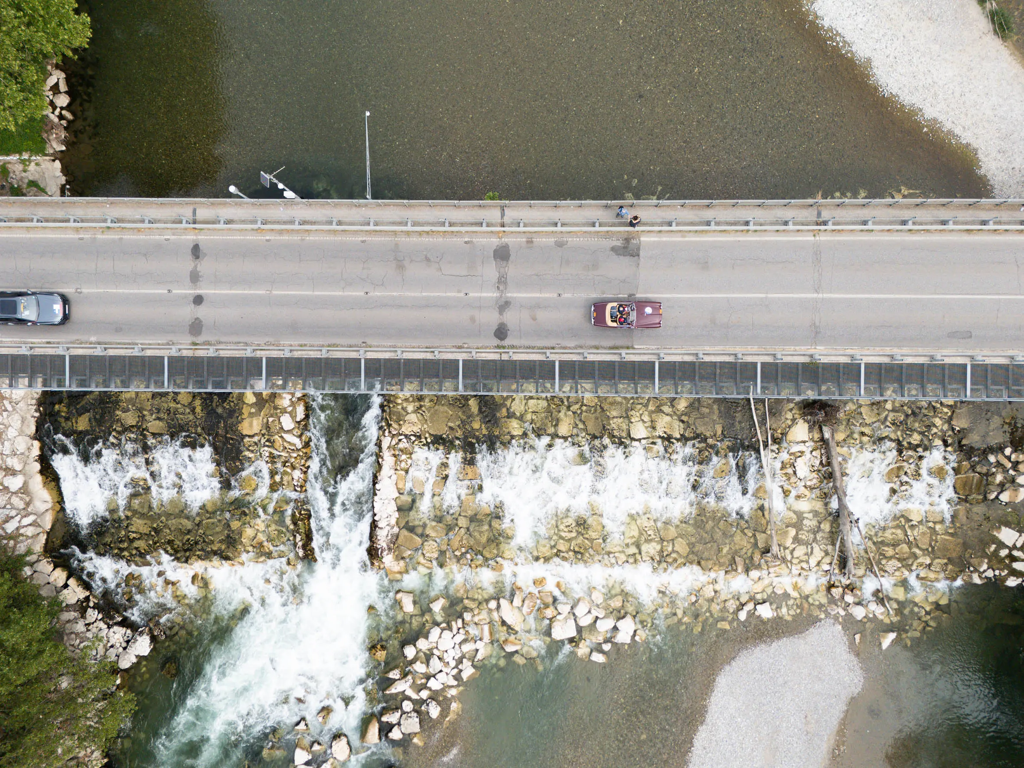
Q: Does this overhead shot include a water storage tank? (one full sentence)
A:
No, there appears to be no water storage tank in this shot.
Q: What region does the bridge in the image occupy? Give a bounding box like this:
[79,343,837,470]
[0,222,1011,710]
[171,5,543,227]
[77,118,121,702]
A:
[0,203,1024,361]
